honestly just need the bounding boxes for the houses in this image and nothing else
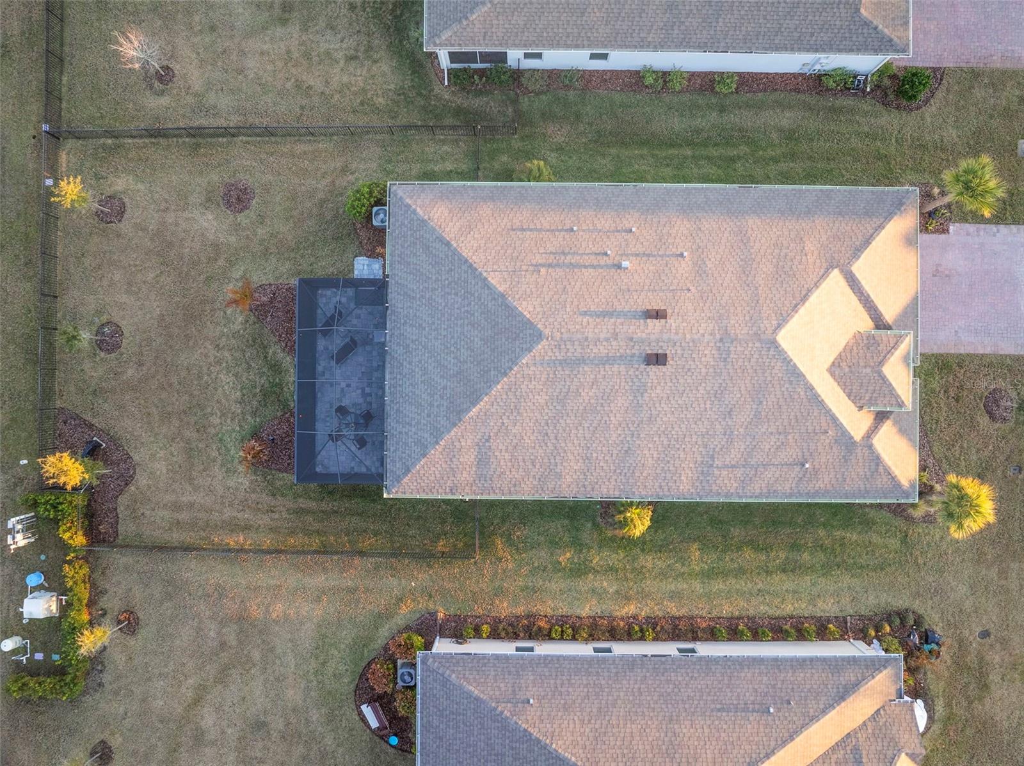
[423,0,913,83]
[384,182,920,503]
[416,630,925,766]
